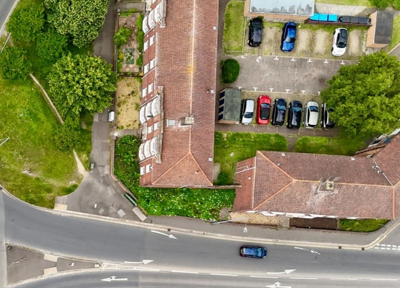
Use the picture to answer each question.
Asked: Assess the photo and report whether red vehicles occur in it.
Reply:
Yes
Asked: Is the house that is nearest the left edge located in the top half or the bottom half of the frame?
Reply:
top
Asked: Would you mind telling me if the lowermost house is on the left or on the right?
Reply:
right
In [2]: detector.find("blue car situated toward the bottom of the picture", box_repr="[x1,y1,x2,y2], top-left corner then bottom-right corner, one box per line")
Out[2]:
[238,244,267,260]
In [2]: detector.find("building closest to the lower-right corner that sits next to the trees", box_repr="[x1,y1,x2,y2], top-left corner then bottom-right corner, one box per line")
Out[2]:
[235,108,400,228]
